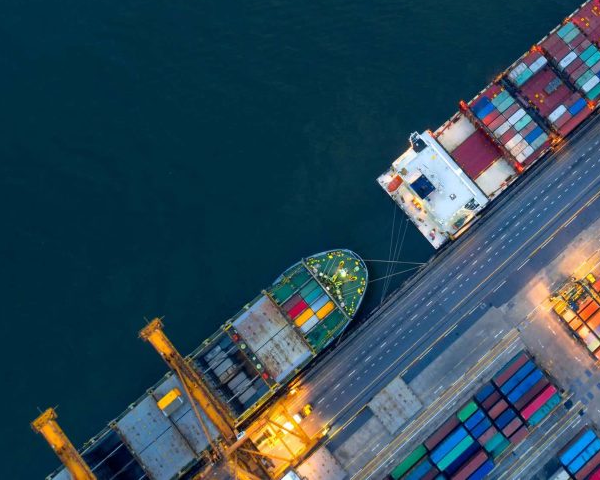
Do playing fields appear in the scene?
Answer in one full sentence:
No, there is no playing field in the image.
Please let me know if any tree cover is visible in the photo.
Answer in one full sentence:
No, the scene doesn't show any tree cover.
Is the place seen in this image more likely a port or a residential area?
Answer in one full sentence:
What you see here is a port.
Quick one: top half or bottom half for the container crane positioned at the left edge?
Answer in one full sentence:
The container crane positioned at the left edge sits in the bottom half of the picture.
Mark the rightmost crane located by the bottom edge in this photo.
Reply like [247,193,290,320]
[130,314,335,480]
